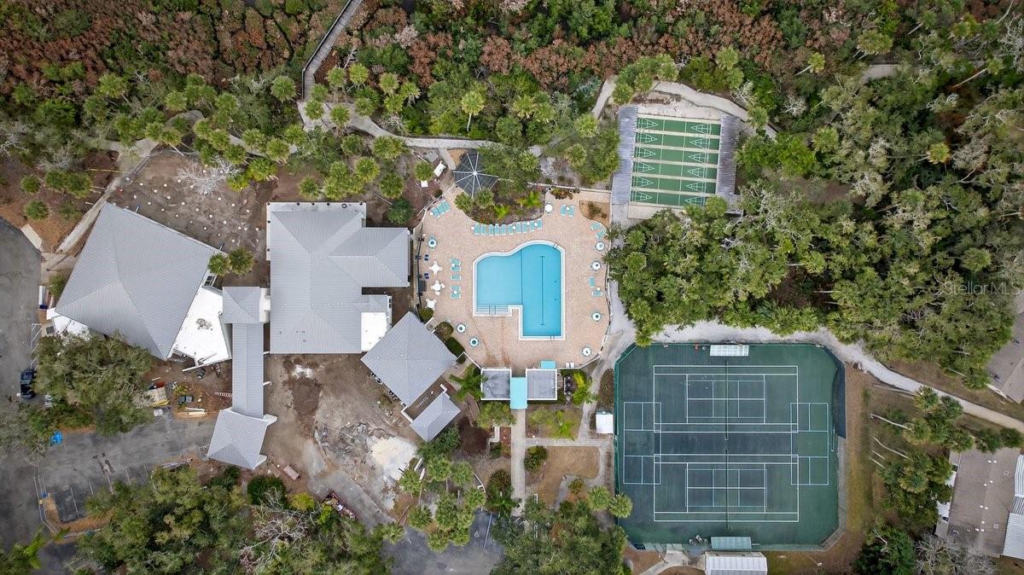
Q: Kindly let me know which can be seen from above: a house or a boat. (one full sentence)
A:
This aerial view contains a house.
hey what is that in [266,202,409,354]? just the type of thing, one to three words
building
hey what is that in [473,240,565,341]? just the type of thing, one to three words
swimming pool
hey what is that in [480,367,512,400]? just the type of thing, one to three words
building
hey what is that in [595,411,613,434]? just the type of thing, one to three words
shed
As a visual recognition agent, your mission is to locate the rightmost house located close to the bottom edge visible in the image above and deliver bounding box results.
[937,446,1021,557]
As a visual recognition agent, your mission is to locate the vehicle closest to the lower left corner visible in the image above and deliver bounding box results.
[15,369,33,400]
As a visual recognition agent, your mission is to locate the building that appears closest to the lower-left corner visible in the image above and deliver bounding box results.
[206,408,268,470]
